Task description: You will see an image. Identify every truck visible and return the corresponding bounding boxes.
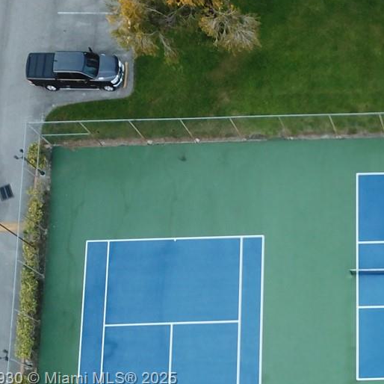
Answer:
[22,44,125,88]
